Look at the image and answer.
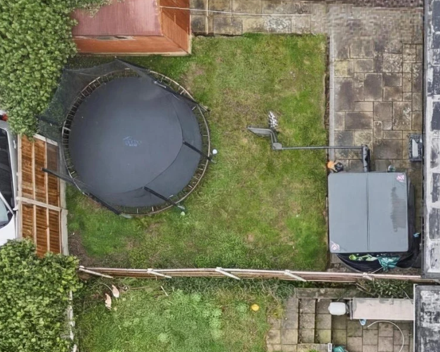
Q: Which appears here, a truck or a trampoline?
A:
trampoline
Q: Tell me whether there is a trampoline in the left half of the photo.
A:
Yes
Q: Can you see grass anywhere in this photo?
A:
Yes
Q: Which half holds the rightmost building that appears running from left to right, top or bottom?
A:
bottom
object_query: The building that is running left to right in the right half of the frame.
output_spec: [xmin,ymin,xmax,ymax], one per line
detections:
[351,297,411,321]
